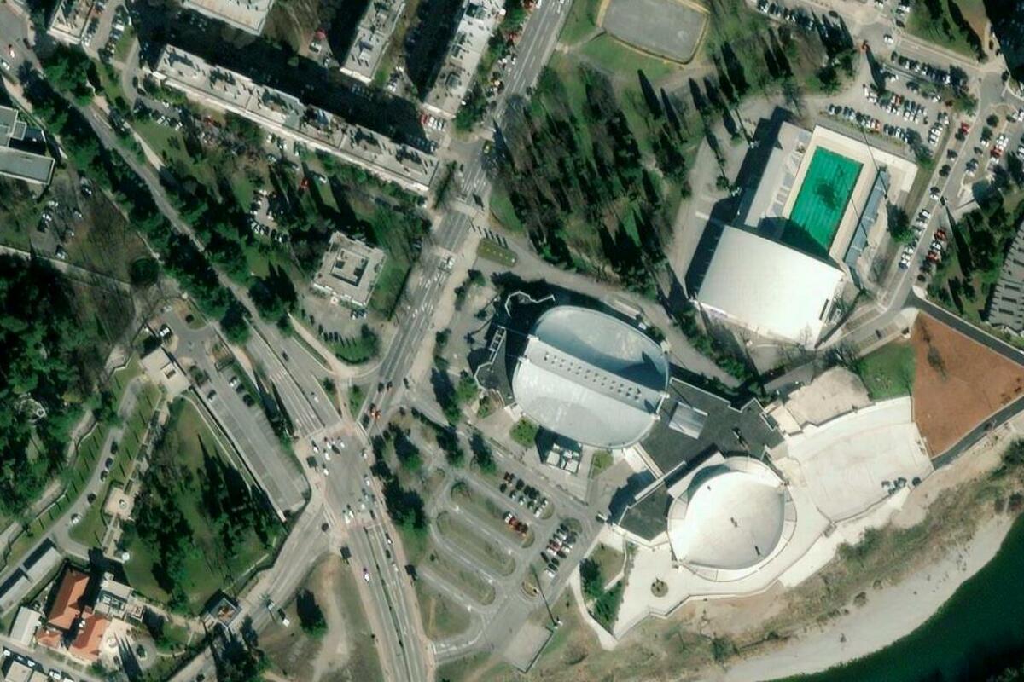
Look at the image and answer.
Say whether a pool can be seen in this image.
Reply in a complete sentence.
Yes, there's a pool down there.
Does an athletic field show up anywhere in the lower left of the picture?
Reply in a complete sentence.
No, looking in the lower left of the picture, there is no athletic field.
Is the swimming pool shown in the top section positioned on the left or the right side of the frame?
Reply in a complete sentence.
It is on the right.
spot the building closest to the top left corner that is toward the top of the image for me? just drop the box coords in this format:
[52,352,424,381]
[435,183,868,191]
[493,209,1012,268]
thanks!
[49,0,99,47]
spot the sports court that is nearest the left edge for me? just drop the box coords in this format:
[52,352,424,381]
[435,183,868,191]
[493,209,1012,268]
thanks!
[512,625,552,671]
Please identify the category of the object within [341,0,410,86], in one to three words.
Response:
building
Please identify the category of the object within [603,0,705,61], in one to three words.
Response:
sports court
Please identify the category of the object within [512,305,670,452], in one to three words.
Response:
stadium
